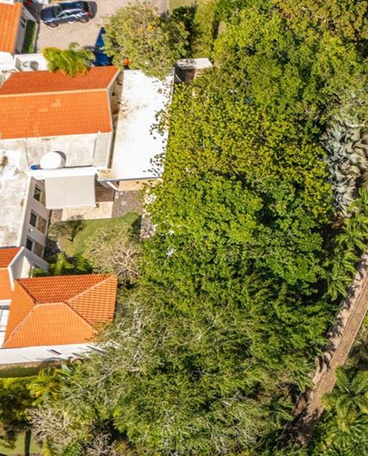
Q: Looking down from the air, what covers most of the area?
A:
trees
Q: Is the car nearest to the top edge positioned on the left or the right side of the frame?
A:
left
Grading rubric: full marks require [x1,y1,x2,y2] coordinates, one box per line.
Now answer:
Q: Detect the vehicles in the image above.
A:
[42,0,90,25]
[84,33,118,68]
